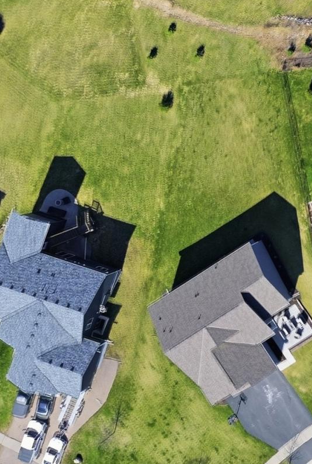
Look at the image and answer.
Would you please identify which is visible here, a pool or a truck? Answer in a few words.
truck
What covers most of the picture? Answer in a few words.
grass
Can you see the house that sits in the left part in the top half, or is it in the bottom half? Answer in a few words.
bottom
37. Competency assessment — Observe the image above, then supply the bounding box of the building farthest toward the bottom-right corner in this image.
[148,242,298,406]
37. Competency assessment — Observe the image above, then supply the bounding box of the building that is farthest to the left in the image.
[0,211,126,396]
